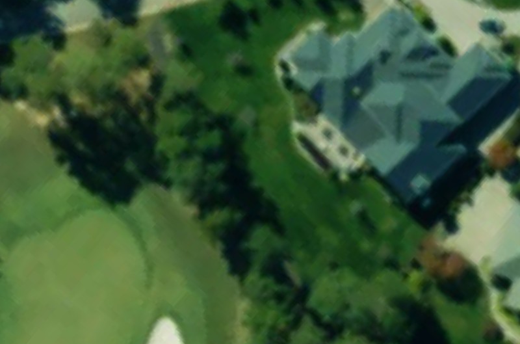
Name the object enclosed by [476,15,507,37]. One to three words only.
car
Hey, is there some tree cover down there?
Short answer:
Yes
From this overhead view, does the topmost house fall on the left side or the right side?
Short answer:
right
